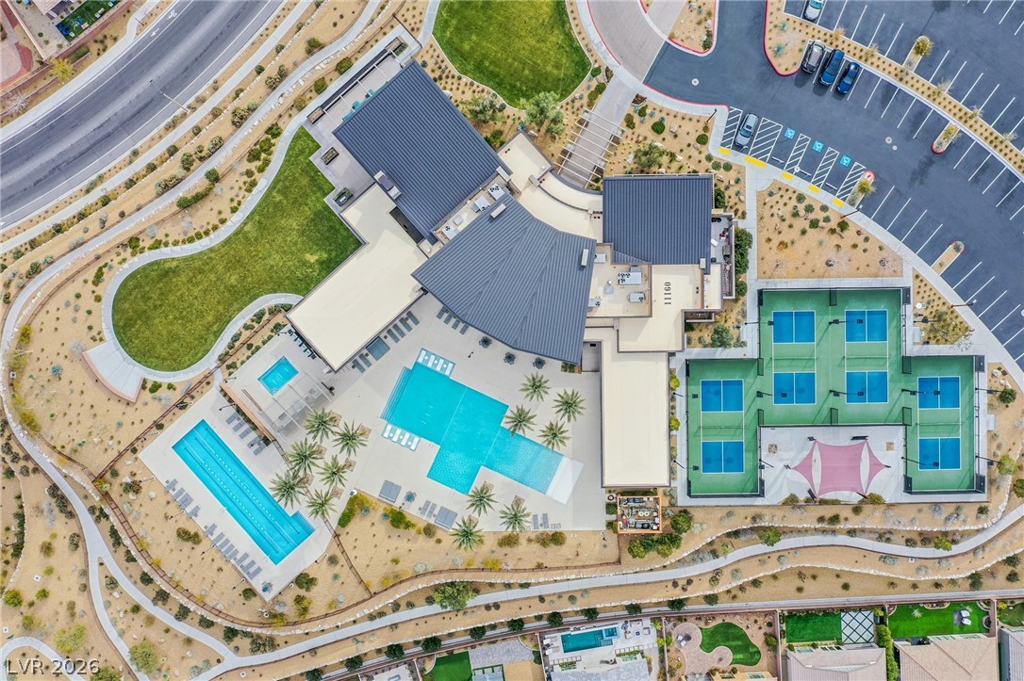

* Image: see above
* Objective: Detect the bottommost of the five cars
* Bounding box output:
[735,110,759,146]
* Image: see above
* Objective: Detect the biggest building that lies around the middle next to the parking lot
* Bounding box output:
[286,60,724,488]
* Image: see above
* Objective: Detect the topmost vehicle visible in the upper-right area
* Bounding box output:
[804,0,824,21]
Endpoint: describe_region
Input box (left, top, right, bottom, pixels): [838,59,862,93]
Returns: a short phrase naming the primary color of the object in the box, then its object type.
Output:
blue car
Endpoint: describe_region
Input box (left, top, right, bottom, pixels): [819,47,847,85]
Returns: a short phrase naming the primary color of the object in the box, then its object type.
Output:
blue car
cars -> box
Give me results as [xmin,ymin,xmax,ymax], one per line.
[735,110,759,146]
[802,37,826,72]
[804,0,824,21]
[838,59,862,93]
[819,47,847,85]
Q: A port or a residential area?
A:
residential area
